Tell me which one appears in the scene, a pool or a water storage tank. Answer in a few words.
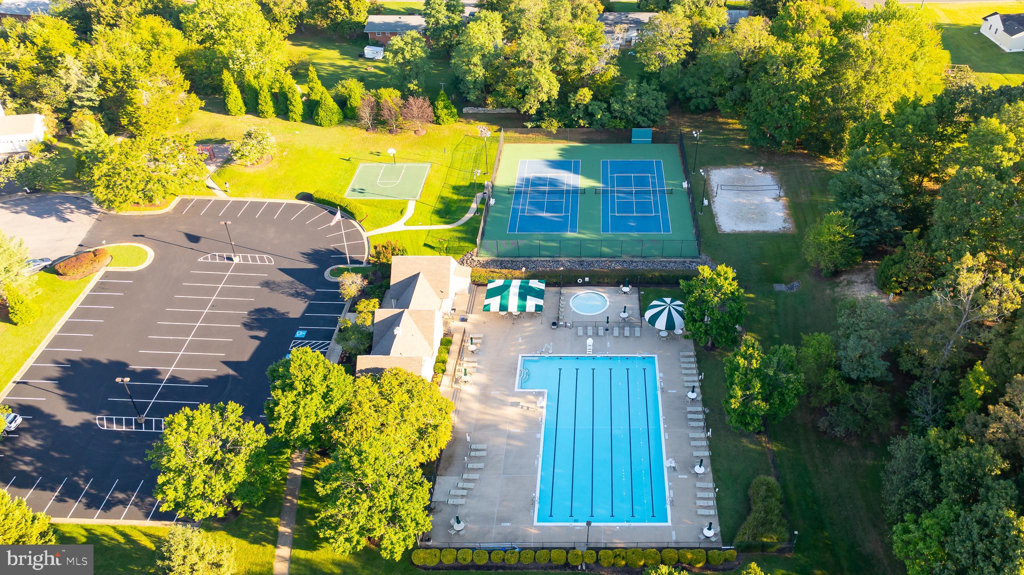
pool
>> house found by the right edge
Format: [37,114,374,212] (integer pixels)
[980,10,1024,52]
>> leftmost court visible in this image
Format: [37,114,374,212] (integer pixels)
[346,162,431,200]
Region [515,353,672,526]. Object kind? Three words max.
swimming pool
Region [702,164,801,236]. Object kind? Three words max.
sports court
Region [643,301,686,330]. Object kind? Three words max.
umbrella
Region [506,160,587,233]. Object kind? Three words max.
tennis court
